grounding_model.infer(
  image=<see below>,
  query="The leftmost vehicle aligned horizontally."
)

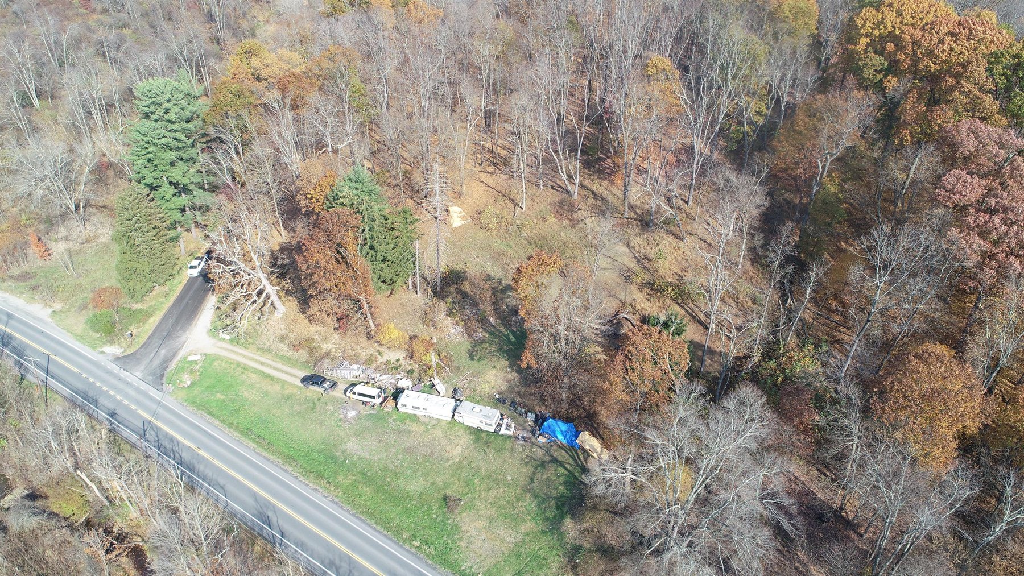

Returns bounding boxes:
[301,376,337,393]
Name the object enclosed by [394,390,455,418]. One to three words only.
trailer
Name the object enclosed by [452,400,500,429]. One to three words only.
camper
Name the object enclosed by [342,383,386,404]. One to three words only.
vehicle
